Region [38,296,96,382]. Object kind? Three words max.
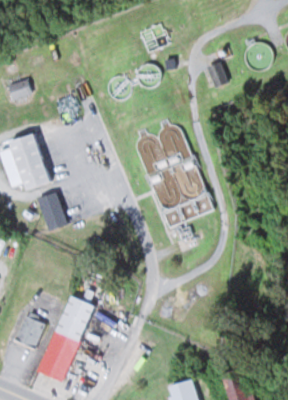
building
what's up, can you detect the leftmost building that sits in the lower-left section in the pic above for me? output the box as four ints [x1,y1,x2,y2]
[16,316,46,348]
